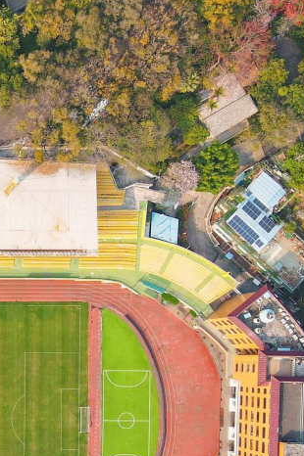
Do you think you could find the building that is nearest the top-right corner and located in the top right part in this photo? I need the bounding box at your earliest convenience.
[193,73,256,139]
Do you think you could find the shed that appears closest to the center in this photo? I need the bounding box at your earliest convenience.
[148,211,179,243]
